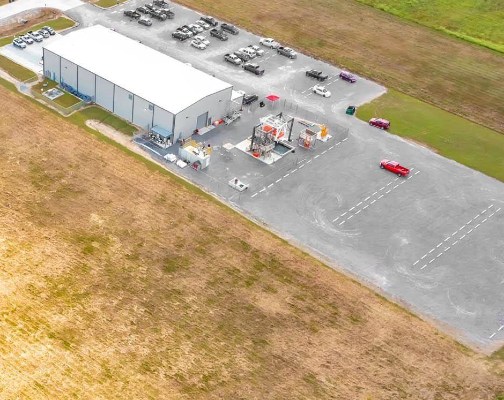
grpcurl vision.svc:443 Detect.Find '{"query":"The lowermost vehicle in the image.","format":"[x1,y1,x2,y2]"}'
[379,160,410,178]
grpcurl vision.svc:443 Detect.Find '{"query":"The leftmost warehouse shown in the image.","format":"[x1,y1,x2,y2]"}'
[39,22,233,144]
